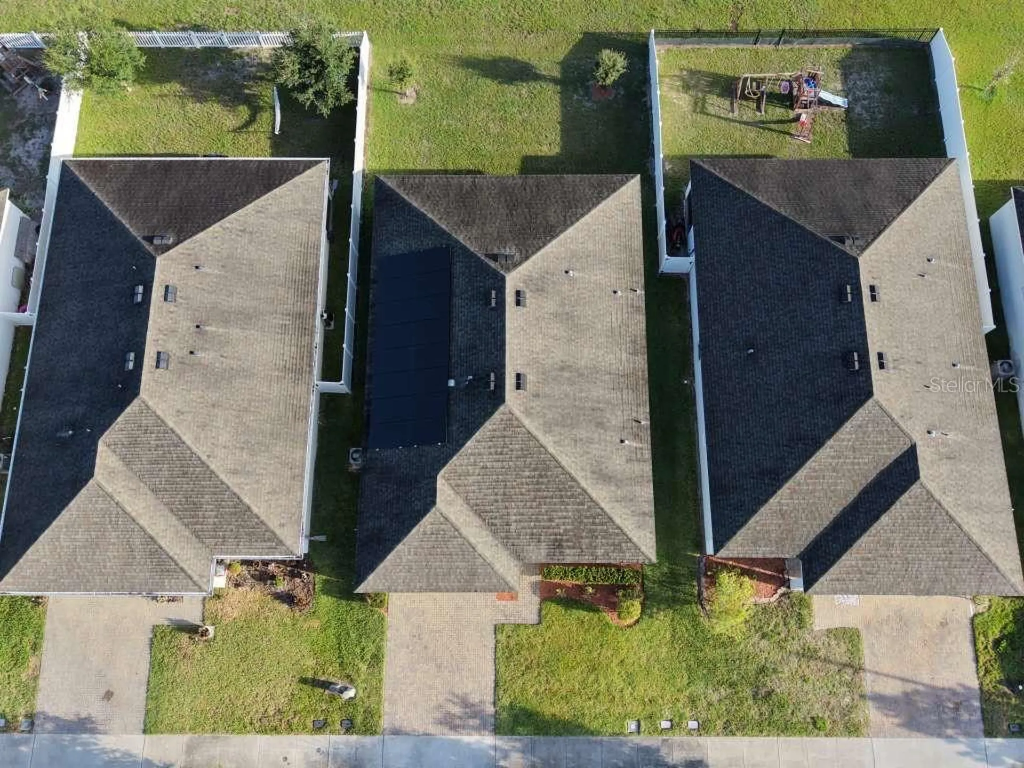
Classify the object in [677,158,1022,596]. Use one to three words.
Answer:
house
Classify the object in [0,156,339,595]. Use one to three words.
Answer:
house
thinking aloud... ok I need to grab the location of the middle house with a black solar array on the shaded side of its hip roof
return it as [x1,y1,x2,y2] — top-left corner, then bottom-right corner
[353,174,657,595]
